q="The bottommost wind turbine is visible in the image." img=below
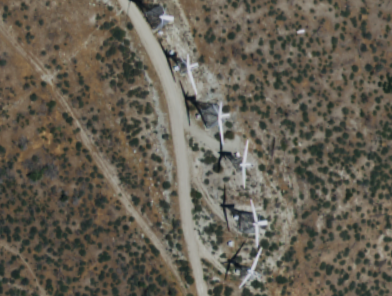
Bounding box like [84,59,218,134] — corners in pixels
[236,248,260,290]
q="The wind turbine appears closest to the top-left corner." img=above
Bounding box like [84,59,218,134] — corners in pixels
[139,0,174,31]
